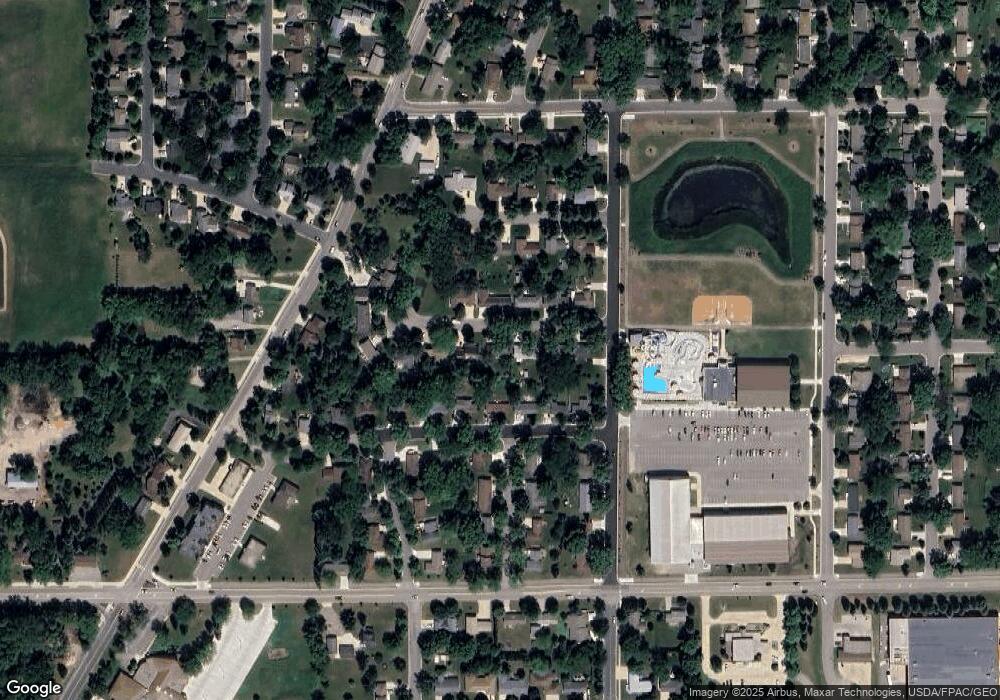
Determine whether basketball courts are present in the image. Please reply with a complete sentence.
No, no basketball court is visible in the scene.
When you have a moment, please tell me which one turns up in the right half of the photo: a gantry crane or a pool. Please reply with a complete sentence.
The one visible in the right half of the photo is a pool.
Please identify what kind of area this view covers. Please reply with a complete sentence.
The picture captures a residential area.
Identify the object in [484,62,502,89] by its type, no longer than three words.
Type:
house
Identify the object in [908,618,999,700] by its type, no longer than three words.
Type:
building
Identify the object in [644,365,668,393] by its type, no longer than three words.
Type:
swimming pool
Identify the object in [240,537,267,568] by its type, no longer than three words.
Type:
building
